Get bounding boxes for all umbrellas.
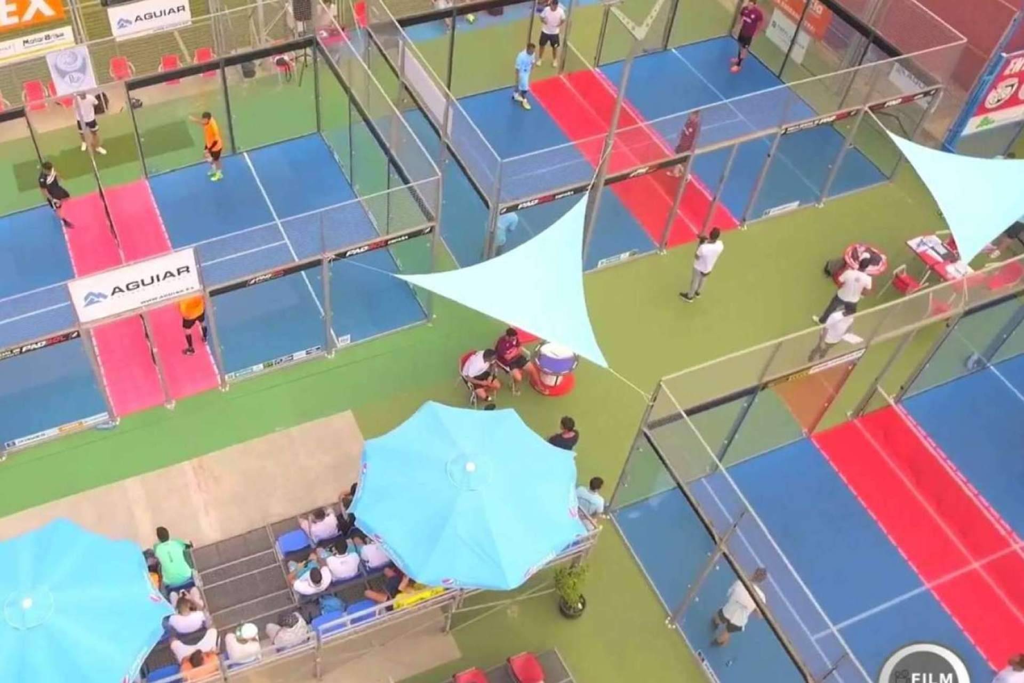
[0,513,181,683]
[348,399,589,600]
